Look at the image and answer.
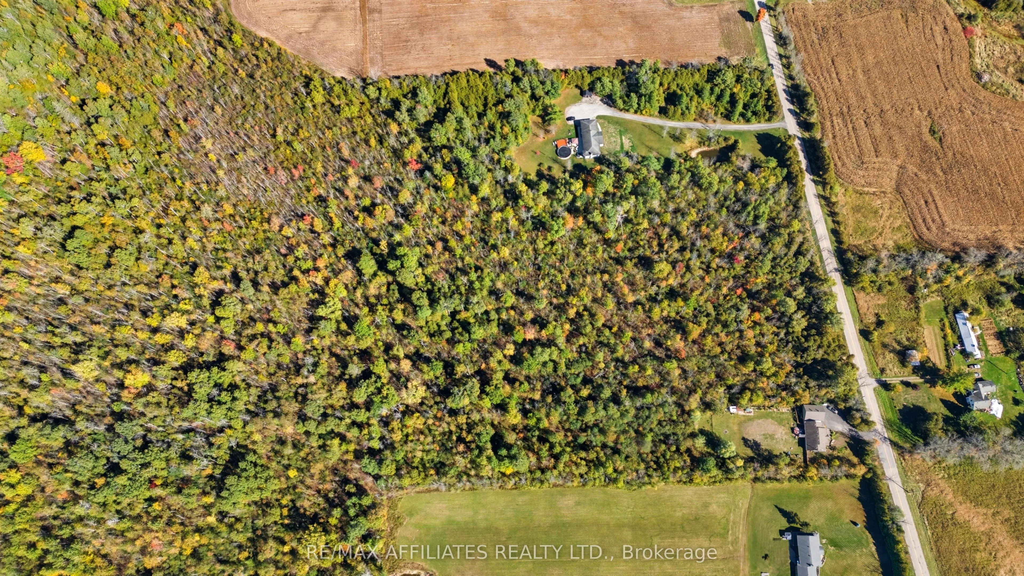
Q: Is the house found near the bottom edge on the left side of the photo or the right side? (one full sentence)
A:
It is on the right.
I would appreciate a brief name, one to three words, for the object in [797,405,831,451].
house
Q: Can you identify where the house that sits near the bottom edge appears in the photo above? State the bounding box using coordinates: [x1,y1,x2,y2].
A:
[789,532,825,576]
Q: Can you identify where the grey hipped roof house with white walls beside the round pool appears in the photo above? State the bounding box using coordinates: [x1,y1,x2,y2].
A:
[577,119,604,159]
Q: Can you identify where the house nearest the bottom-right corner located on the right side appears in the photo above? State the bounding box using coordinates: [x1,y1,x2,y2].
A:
[963,380,996,411]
